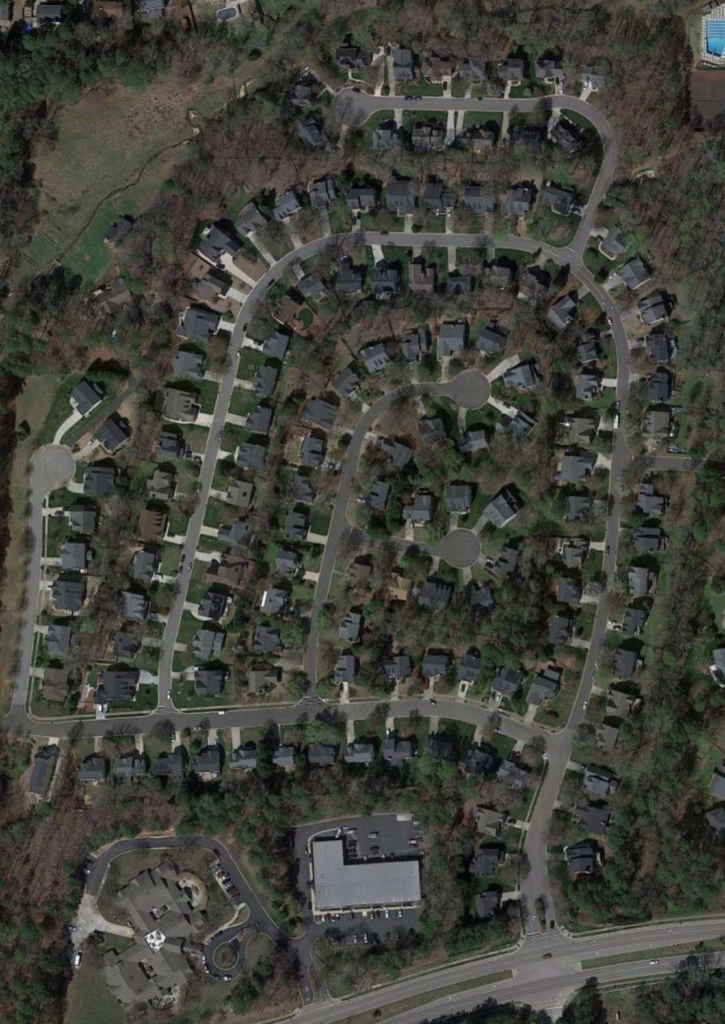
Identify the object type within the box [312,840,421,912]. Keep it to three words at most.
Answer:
building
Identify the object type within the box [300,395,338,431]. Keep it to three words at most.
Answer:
house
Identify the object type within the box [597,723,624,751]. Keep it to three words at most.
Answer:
house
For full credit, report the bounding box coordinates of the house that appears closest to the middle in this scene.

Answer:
[368,480,391,510]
